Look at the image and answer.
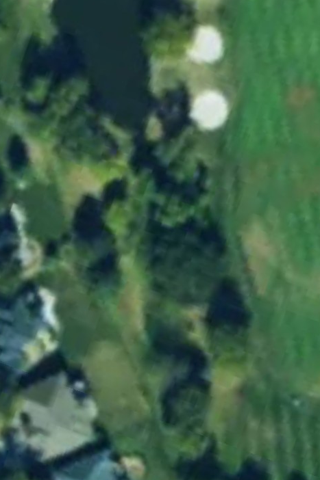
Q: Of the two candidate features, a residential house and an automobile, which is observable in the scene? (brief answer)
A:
residential house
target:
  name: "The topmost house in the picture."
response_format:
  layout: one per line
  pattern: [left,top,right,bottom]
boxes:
[0,214,19,253]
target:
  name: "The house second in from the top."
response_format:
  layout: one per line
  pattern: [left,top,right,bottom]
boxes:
[0,293,47,378]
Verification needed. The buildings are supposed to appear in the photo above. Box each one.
[13,374,102,465]
[0,293,47,378]
[45,444,125,480]
[0,214,19,253]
